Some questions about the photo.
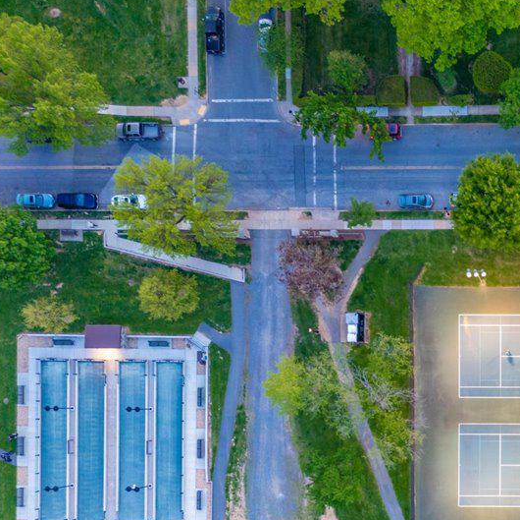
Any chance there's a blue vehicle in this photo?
Yes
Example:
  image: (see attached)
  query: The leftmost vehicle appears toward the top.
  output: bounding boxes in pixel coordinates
[12,190,52,208]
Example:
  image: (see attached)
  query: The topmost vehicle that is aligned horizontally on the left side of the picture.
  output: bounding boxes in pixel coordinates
[114,120,161,139]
